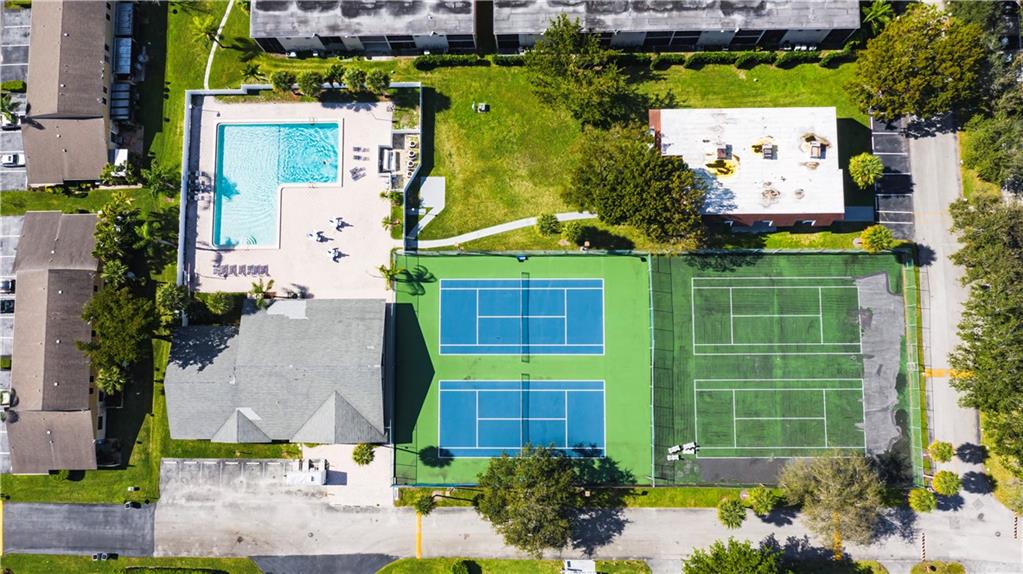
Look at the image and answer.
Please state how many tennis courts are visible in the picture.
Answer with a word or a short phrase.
4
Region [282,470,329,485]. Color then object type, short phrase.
white trailer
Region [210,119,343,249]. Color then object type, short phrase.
white swimming pool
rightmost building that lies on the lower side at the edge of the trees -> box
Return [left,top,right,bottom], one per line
[164,299,387,443]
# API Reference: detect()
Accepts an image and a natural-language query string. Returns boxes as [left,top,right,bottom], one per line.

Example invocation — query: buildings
[6,211,112,473]
[164,299,387,443]
[21,0,126,186]
[251,0,477,54]
[648,108,845,230]
[495,0,860,51]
